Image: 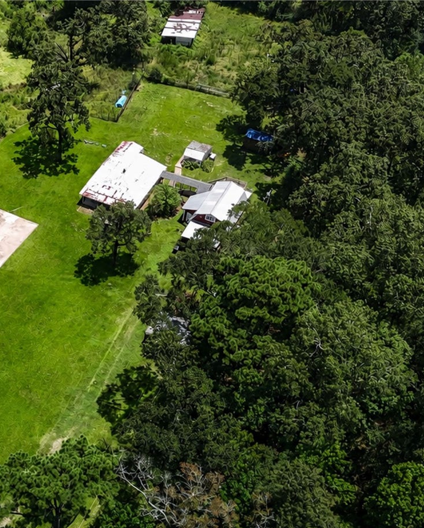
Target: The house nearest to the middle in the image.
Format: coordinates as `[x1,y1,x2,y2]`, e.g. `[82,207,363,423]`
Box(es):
[180,180,251,249]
